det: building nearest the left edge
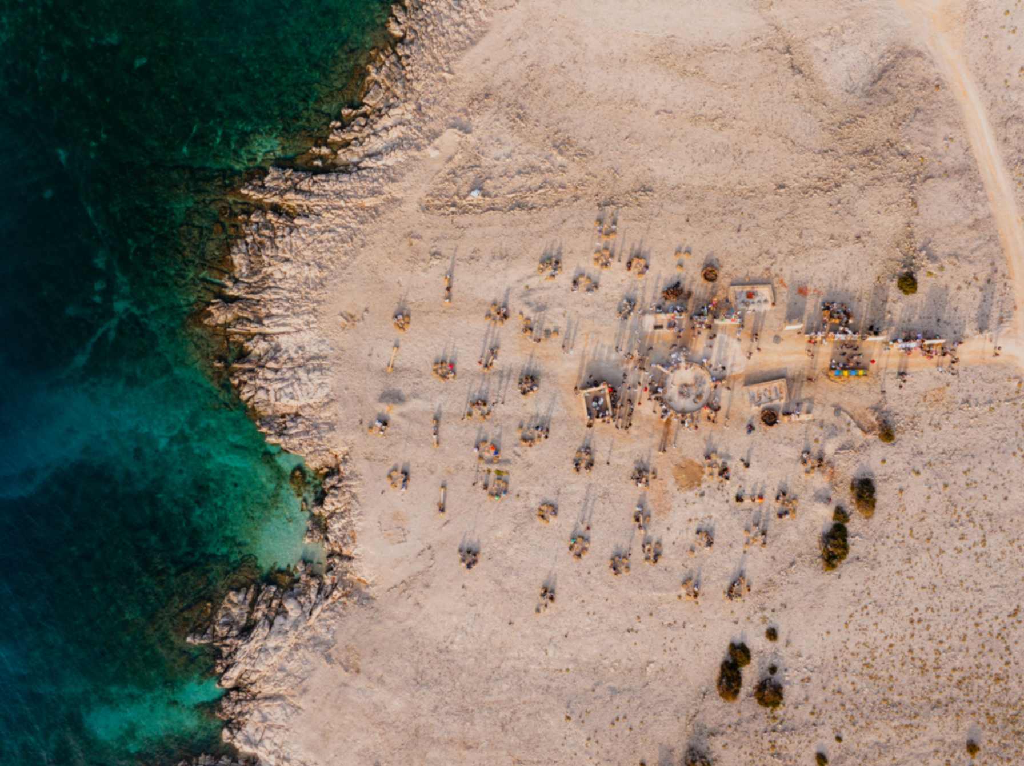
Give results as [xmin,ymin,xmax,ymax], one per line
[581,382,614,422]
